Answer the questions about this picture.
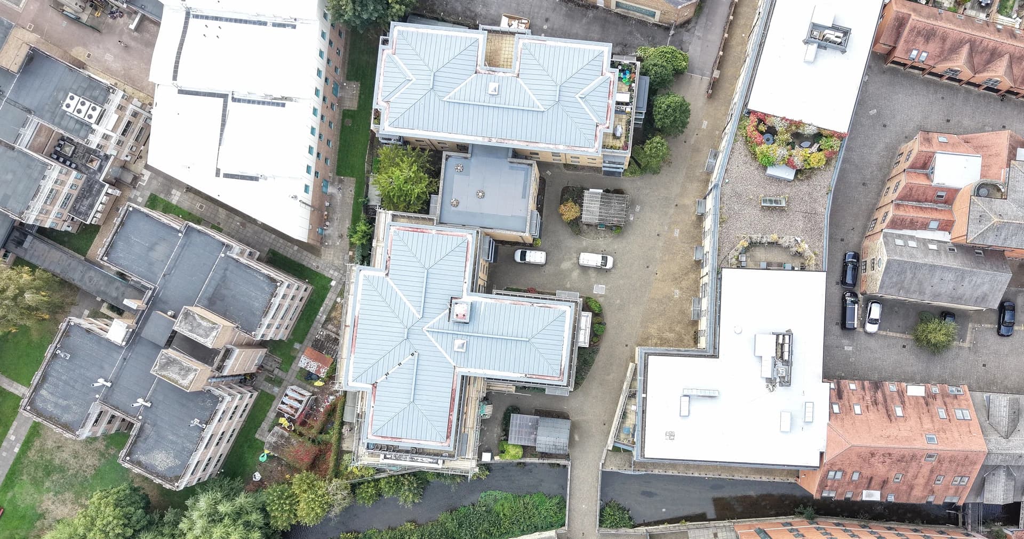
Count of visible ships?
0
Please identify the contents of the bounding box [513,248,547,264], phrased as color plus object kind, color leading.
white vehicle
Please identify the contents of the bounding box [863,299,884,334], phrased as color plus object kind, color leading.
white car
